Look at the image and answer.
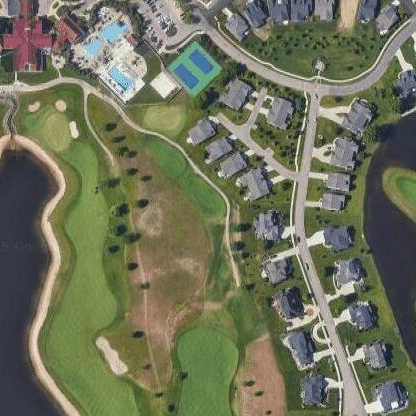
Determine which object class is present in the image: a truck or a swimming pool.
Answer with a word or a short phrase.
swimming pool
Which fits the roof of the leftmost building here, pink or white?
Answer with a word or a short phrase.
pink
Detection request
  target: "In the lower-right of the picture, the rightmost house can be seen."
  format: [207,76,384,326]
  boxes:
[377,380,413,414]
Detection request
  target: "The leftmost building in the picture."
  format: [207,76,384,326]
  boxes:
[1,0,50,71]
